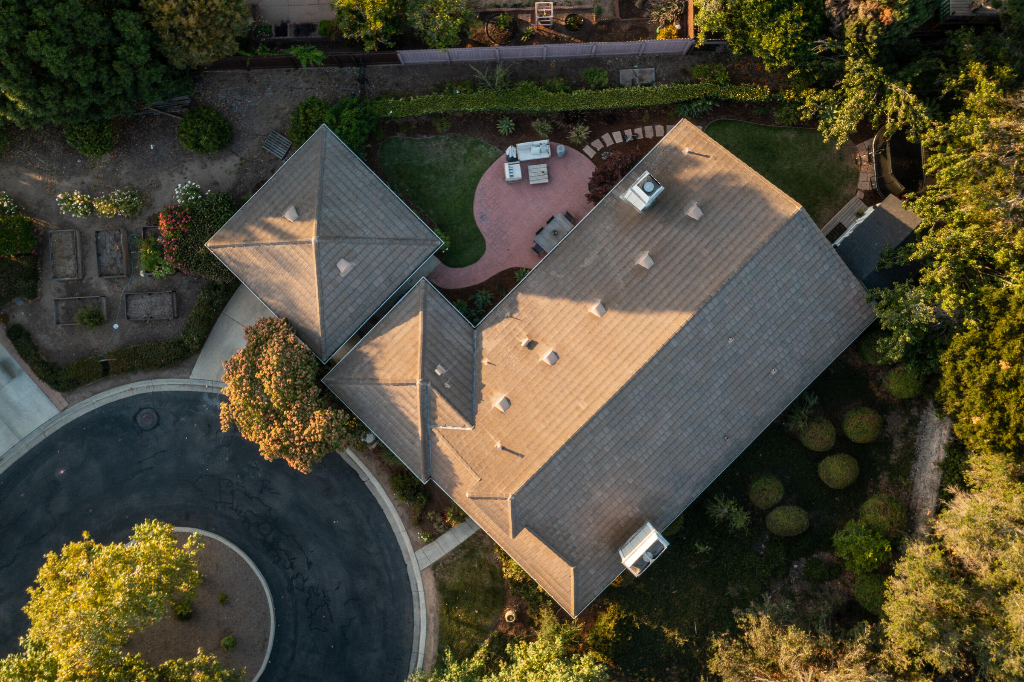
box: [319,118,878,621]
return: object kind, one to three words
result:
house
